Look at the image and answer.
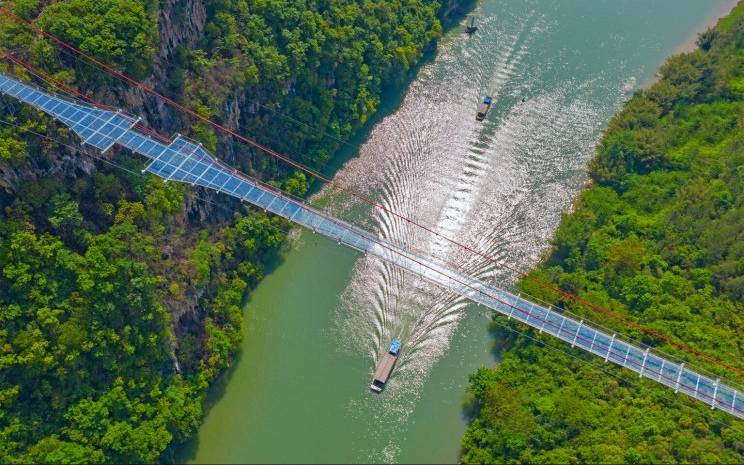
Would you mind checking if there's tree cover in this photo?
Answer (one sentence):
Yes, there's tree cover in this view.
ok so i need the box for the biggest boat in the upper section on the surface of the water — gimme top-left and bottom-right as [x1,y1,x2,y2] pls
[477,95,490,120]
